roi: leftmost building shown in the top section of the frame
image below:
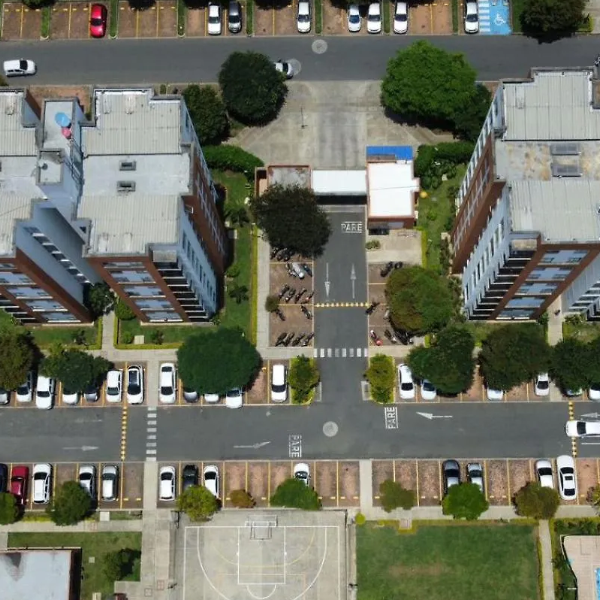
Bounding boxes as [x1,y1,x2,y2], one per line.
[0,88,225,328]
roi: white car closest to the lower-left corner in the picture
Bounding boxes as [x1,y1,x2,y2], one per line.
[32,463,54,505]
